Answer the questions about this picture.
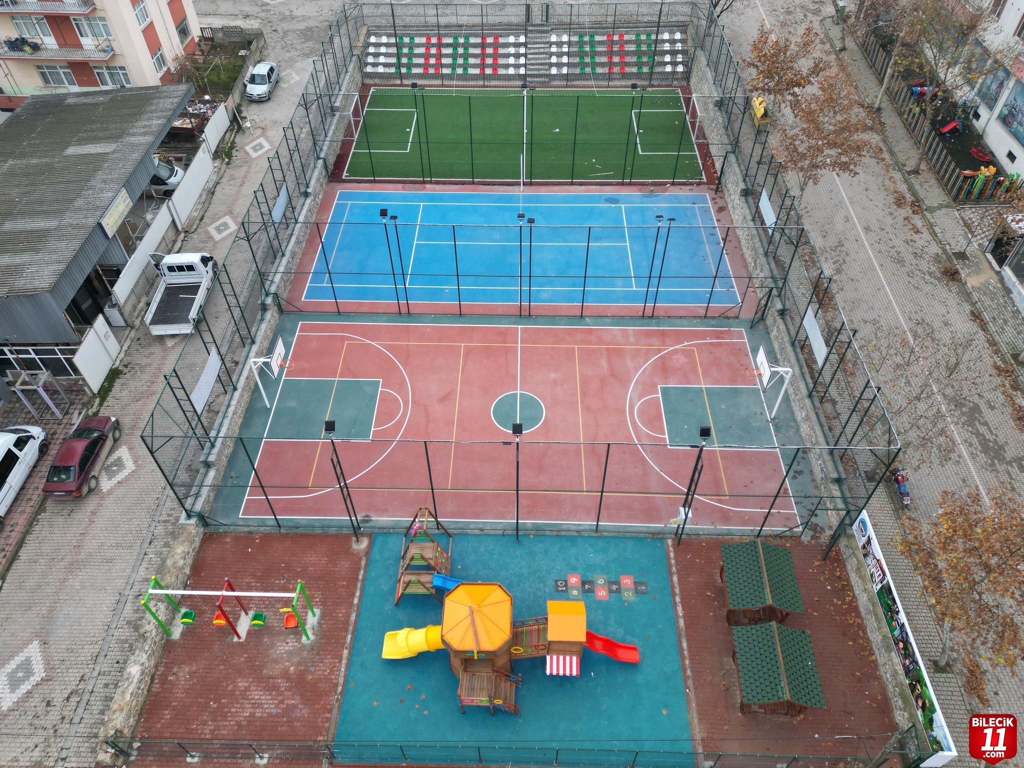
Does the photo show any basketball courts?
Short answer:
Yes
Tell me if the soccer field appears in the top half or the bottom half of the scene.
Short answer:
top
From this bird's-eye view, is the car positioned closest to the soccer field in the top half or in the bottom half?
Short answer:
top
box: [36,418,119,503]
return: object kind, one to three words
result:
car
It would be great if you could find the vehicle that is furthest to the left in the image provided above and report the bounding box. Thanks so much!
[0,431,44,523]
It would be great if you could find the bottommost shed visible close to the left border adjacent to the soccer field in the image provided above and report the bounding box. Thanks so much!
[0,83,211,377]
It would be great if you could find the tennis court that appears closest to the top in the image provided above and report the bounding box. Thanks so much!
[285,156,761,321]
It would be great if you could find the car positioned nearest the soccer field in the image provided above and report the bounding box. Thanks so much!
[242,60,282,94]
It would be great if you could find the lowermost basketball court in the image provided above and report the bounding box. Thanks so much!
[211,314,830,538]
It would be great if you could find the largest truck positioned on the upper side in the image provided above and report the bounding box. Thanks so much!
[139,250,215,327]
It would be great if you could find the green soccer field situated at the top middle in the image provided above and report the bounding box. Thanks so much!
[332,84,720,185]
